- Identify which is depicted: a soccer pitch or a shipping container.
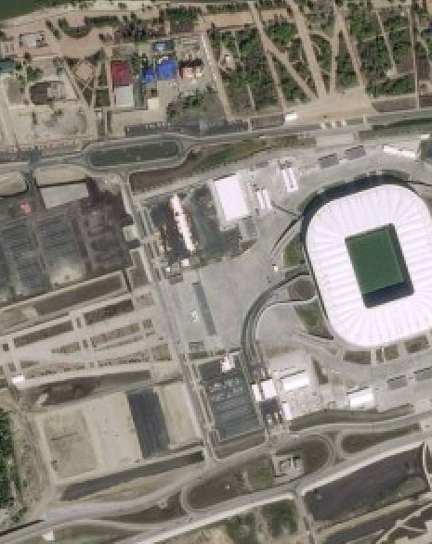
soccer pitch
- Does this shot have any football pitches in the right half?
Yes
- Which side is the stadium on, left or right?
right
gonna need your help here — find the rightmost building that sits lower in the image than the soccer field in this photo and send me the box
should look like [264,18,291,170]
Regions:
[347,390,375,407]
